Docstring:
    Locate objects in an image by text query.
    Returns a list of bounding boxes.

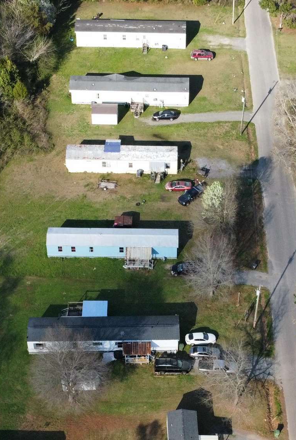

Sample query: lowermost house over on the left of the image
[26,300,179,362]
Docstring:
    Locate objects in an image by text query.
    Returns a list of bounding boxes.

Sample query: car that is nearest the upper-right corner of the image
[190,48,213,61]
